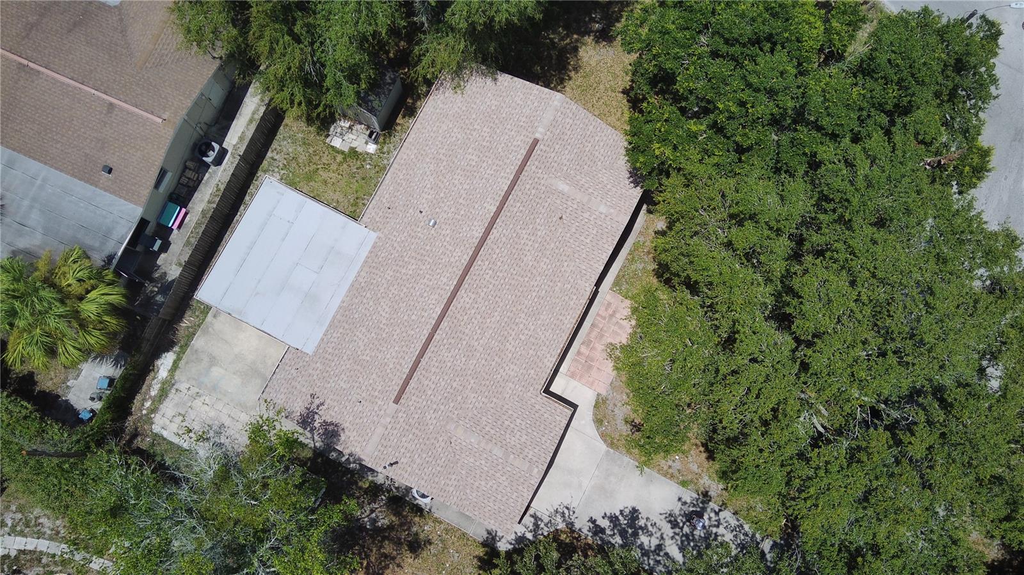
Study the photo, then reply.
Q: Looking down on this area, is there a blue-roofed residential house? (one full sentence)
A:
No, there is no blue-roofed residential house in the image.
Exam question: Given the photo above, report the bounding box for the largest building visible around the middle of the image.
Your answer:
[192,56,653,537]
